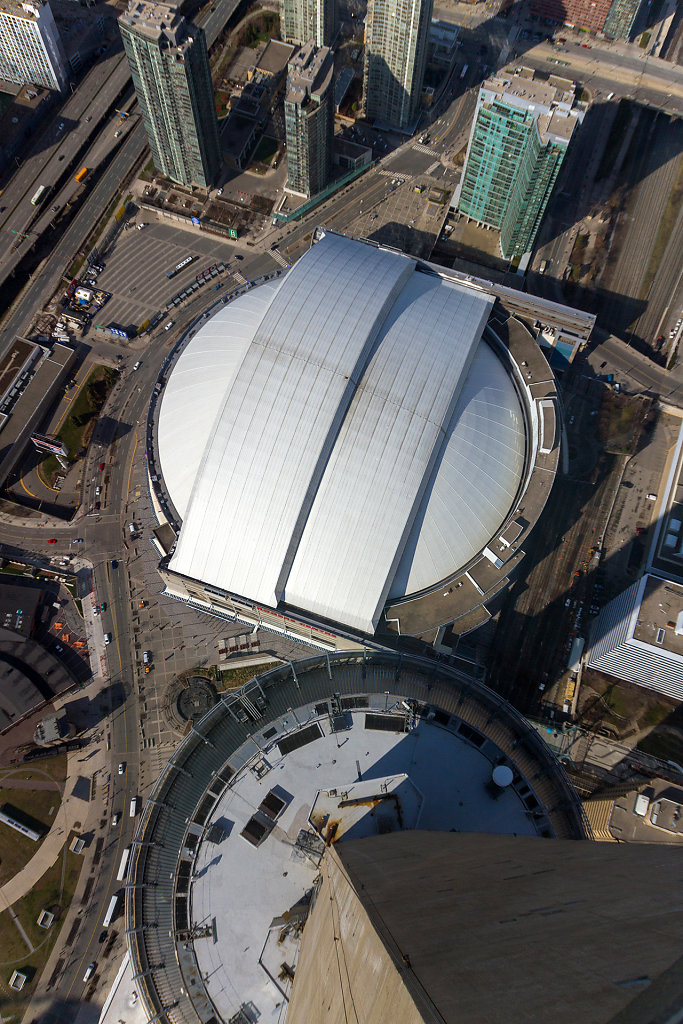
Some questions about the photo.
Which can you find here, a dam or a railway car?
railway car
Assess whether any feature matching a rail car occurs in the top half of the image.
No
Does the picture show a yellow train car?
No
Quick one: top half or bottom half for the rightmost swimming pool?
top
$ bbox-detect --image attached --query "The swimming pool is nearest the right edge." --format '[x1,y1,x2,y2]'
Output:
[550,343,574,370]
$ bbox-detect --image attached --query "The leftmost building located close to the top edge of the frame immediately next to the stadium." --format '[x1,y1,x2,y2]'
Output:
[120,0,226,194]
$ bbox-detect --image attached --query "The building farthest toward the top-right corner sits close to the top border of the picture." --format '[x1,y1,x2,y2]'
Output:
[604,0,647,41]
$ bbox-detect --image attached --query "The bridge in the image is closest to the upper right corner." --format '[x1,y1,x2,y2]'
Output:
[580,36,683,118]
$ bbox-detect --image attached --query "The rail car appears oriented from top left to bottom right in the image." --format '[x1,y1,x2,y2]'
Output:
[0,808,42,840]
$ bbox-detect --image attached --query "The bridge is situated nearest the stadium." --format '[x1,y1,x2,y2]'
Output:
[577,326,683,410]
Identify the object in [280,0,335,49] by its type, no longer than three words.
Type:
building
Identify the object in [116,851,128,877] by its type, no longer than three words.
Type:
vehicle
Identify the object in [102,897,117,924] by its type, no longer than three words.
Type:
vehicle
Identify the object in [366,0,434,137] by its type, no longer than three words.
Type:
building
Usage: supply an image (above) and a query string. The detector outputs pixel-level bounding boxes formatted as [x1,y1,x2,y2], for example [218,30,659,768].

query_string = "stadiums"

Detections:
[145,229,596,684]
